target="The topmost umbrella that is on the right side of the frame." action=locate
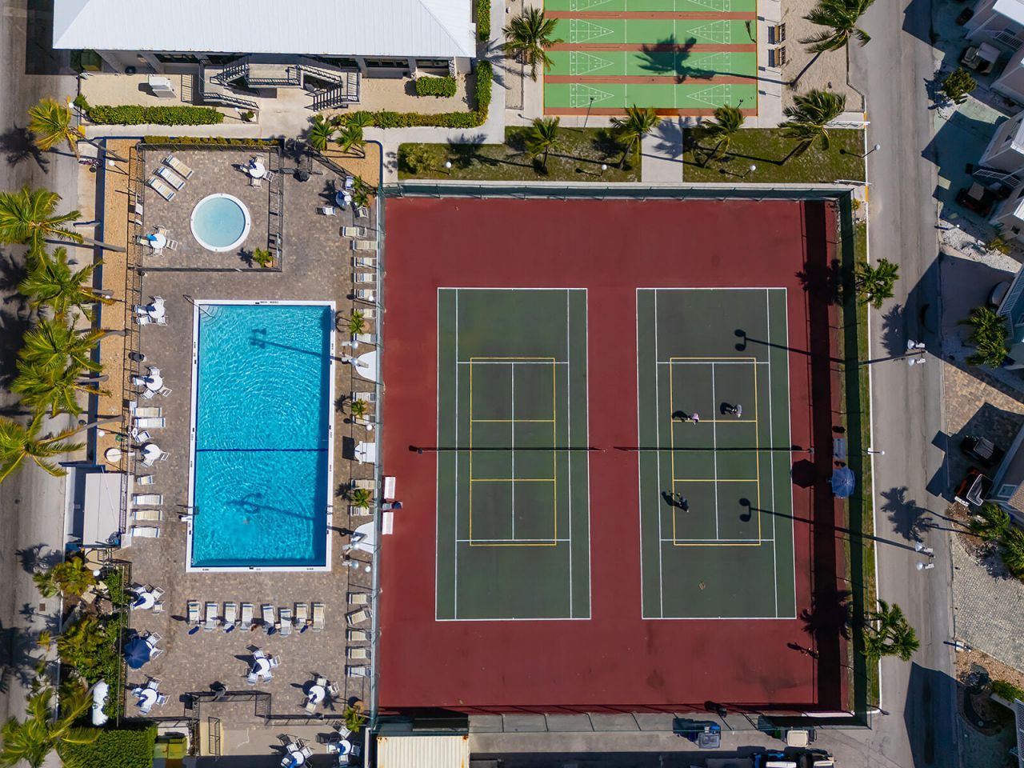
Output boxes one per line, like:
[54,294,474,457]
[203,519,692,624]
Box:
[825,467,855,496]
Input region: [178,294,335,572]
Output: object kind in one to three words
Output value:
swimming pool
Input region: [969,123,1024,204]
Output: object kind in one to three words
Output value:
house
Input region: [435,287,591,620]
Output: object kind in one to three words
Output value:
tennis court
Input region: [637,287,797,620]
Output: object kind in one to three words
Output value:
tennis court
